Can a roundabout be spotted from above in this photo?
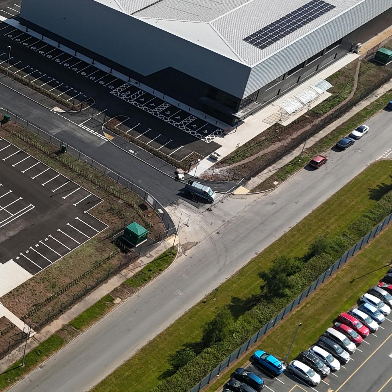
No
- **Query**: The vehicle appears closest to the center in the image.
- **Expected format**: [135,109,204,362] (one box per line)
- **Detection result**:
[186,180,215,203]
